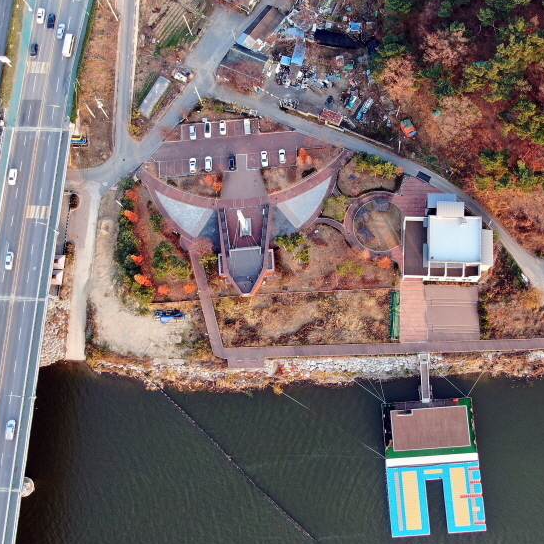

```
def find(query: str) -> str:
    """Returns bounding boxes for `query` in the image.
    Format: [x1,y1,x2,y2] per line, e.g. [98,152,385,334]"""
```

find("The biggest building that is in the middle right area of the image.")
[400,194,493,282]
